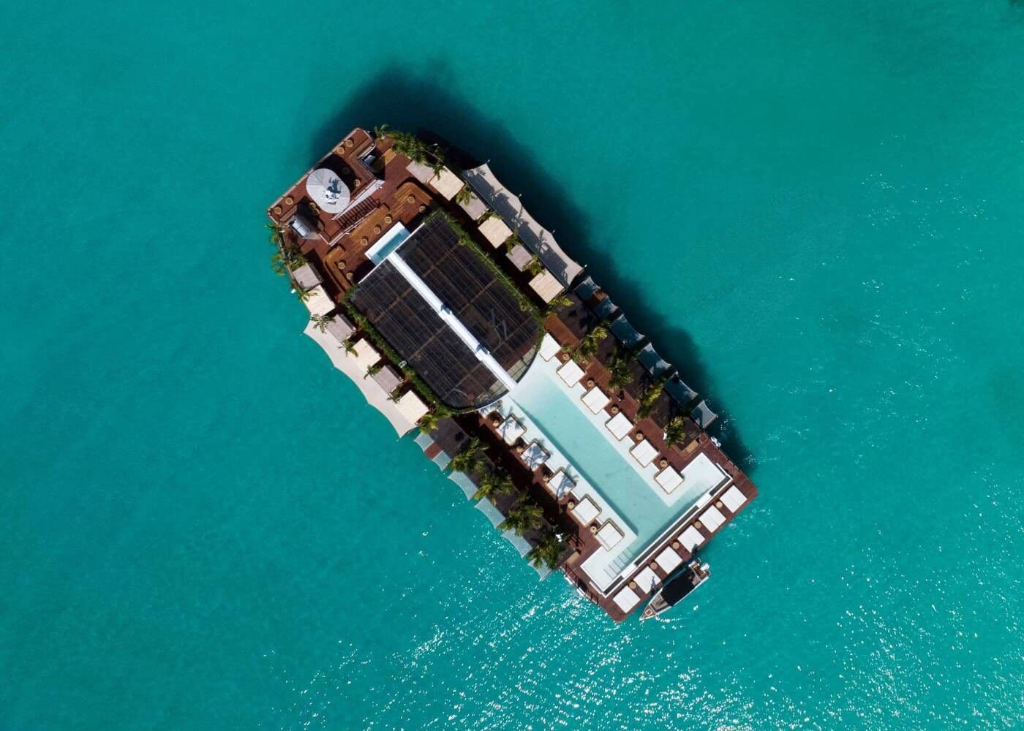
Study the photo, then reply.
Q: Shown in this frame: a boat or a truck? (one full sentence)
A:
Visible in the photo is a boat.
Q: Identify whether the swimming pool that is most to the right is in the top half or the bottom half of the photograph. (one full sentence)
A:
The swimming pool that is most to the right sits in the bottom half of the picture.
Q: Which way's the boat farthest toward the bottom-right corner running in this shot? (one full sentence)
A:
I'd say the boat farthest toward the bottom-right corner is aligned diagonally in the picture.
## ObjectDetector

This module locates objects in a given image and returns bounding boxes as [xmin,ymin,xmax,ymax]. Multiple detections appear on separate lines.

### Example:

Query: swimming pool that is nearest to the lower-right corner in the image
[492,354,732,597]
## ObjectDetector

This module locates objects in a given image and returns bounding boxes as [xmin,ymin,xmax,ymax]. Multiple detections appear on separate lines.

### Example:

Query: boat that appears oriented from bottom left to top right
[640,559,712,623]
